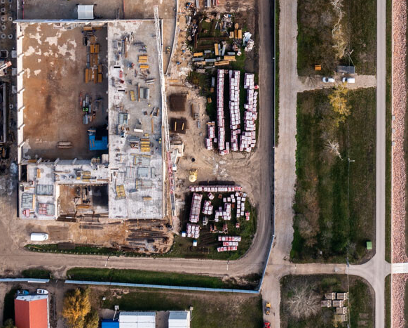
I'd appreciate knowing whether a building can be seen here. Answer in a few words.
Yes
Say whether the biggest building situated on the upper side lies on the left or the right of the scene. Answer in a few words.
left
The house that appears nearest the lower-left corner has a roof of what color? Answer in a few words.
red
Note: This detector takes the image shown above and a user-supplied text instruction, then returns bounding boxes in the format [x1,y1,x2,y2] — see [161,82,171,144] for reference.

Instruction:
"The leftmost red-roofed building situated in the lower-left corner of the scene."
[15,293,49,328]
